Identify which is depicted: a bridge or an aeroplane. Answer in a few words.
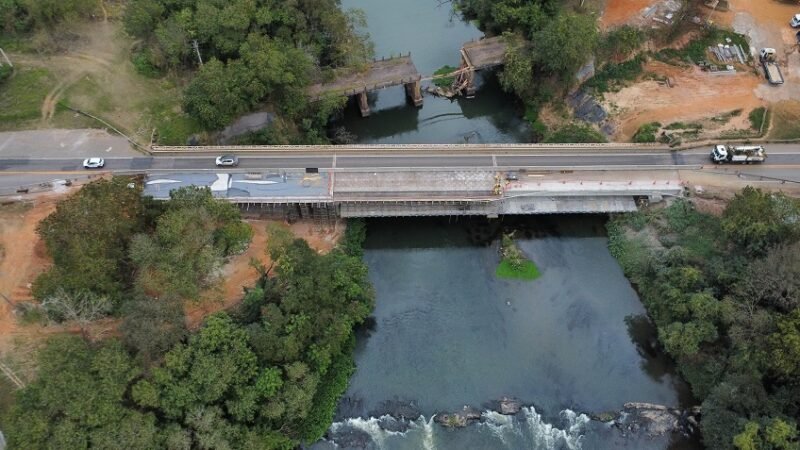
bridge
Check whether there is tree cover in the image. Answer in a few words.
Yes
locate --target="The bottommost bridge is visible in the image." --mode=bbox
[118,141,702,220]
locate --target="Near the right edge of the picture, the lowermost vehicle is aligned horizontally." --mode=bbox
[711,146,772,165]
